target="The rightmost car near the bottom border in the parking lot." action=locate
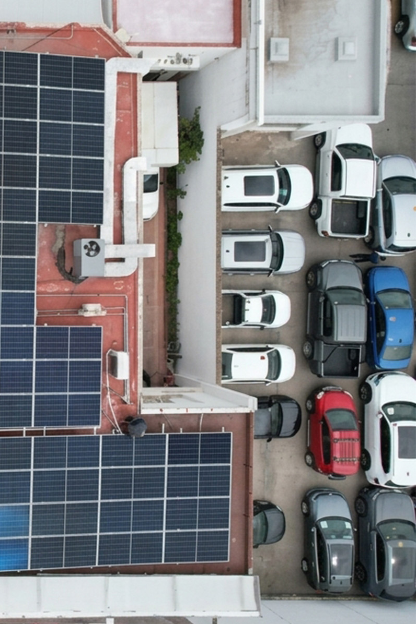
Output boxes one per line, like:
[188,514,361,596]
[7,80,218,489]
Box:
[355,488,416,597]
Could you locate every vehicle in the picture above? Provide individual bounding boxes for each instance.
[306,261,369,376]
[311,128,376,237]
[305,387,366,481]
[359,266,416,367]
[247,394,303,440]
[384,0,416,53]
[364,154,416,257]
[224,288,292,330]
[253,497,286,547]
[297,488,360,592]
[224,226,307,274]
[142,169,170,221]
[359,372,416,484]
[211,342,296,386]
[355,488,416,597]
[224,162,316,212]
